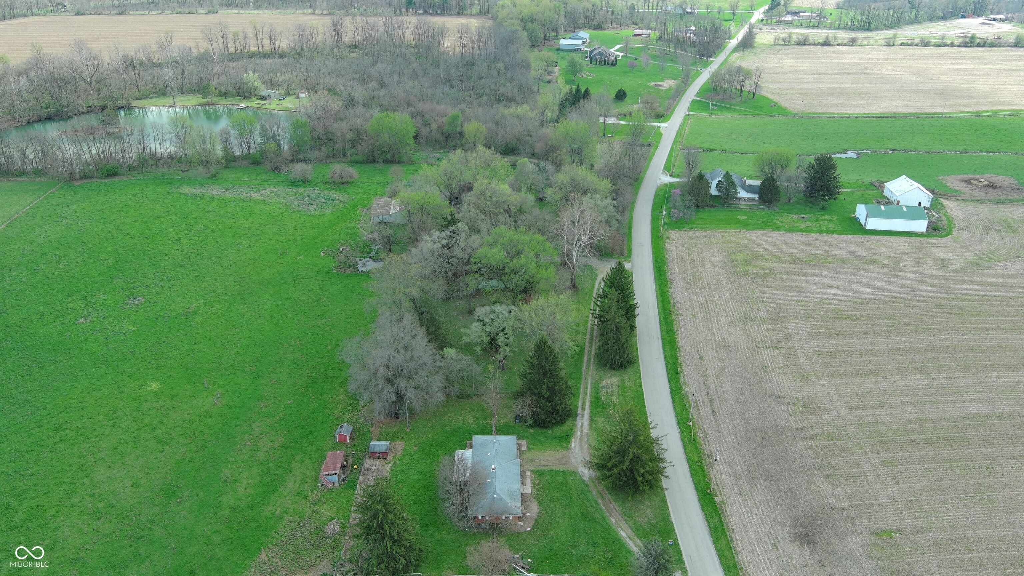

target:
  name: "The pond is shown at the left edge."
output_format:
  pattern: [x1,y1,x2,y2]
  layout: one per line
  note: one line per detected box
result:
[0,105,308,164]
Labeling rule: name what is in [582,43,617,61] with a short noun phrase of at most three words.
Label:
house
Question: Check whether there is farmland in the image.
Yes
